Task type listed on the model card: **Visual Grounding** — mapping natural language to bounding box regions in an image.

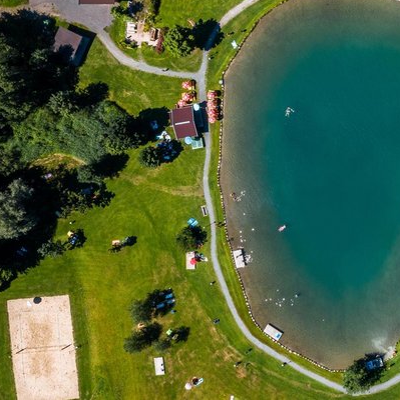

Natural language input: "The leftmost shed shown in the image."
[51,26,89,62]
